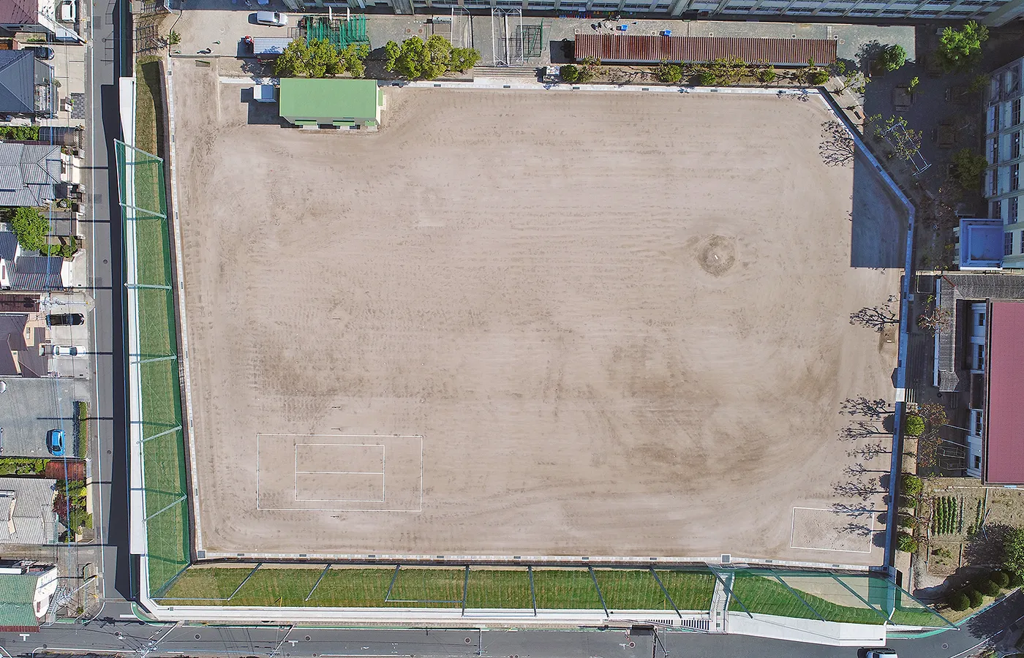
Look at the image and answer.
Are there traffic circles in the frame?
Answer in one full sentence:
No, the photo shows no traffic circle.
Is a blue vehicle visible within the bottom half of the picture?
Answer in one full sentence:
Yes, a blue vehicle appears within the bottom half of the picture.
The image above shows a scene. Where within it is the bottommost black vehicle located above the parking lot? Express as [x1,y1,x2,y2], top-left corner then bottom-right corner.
[45,312,83,327]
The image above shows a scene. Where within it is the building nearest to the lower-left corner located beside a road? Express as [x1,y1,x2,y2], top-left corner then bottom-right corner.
[0,550,68,632]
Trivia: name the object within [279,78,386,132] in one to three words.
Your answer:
shed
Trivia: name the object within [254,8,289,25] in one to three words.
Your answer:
vehicle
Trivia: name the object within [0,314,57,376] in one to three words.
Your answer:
house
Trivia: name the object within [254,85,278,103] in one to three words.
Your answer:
shed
